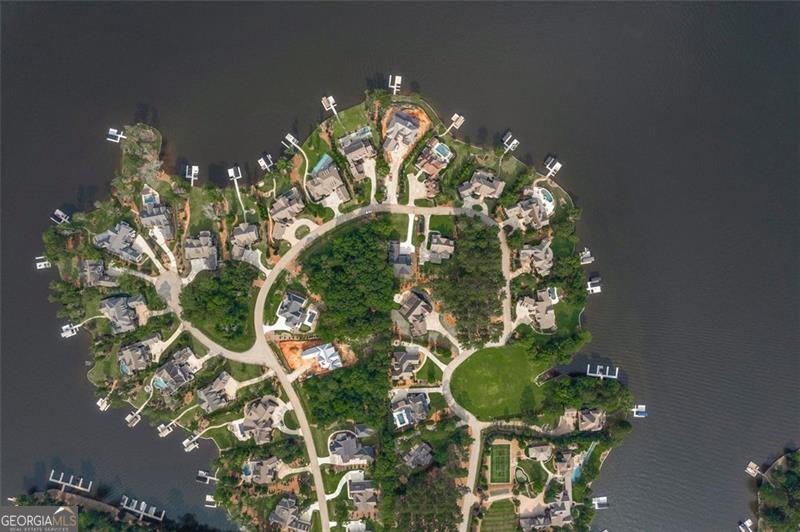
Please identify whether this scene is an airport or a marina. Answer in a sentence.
This looks like a marina.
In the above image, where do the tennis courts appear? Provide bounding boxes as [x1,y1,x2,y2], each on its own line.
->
[489,443,512,484]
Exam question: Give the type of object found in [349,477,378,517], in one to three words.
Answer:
house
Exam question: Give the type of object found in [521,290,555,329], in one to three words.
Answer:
house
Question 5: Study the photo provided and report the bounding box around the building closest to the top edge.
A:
[380,108,421,152]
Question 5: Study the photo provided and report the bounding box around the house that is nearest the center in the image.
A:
[388,239,412,277]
